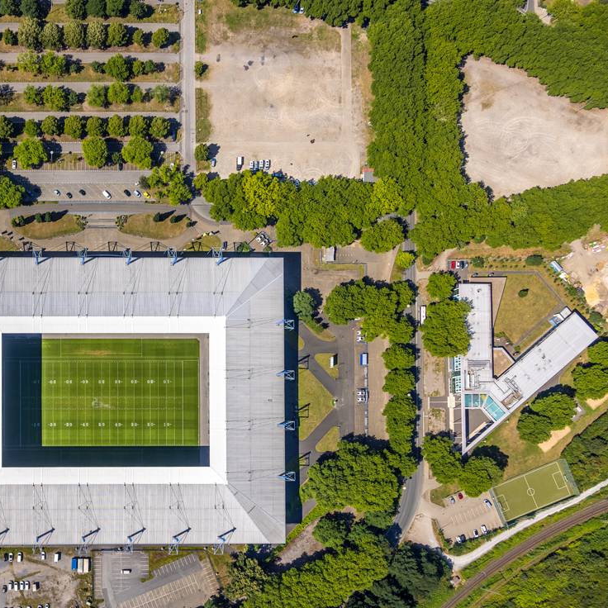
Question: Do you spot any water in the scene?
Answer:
No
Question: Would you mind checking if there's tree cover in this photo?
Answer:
Yes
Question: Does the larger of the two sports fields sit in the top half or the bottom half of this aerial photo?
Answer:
bottom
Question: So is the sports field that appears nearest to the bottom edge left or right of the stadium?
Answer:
to the right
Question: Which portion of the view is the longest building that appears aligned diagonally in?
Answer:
right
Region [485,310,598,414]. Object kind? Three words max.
building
